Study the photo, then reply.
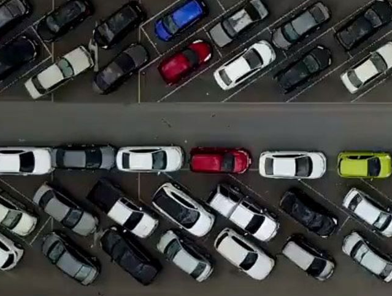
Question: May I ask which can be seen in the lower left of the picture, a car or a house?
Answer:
car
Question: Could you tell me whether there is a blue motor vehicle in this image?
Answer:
Yes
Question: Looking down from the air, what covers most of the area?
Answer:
paved ground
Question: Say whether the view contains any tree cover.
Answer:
No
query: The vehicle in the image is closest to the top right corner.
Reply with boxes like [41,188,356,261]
[336,0,392,50]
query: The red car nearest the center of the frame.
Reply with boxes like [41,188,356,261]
[190,146,251,177]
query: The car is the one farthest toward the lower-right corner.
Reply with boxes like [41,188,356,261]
[343,230,392,283]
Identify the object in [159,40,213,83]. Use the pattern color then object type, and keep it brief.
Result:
red car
